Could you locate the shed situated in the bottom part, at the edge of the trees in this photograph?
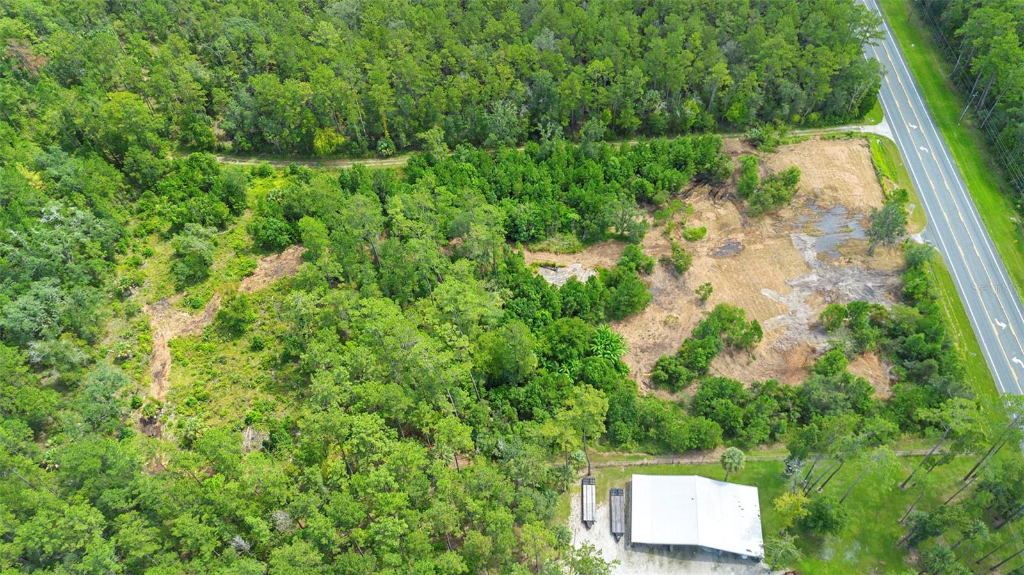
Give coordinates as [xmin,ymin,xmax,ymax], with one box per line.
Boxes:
[631,475,765,562]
